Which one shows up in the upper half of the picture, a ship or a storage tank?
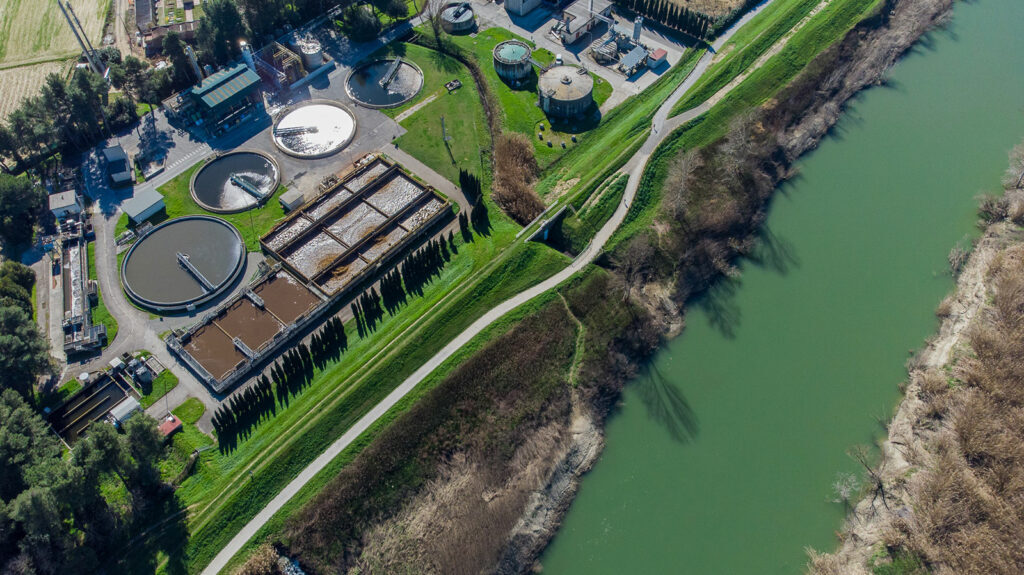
storage tank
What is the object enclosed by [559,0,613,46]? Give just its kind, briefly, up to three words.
building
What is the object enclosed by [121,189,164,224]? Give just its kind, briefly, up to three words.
building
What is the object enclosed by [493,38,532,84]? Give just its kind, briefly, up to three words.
storage tank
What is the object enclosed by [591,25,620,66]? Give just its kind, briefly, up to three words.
storage tank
